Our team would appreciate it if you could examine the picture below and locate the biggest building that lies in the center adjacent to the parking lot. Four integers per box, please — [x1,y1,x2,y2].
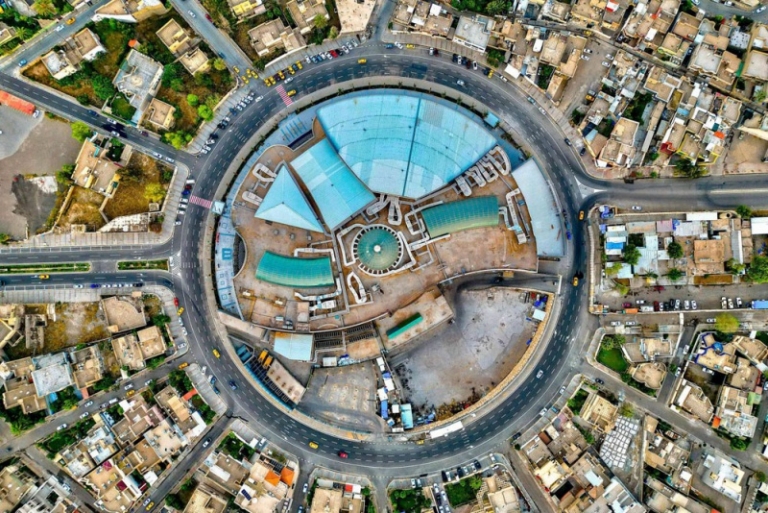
[232,95,563,332]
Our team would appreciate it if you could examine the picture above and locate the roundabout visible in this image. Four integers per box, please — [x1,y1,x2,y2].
[166,41,604,479]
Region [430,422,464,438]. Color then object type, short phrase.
white vehicle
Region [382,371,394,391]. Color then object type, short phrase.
white vehicle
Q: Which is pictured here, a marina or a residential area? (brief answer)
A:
residential area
